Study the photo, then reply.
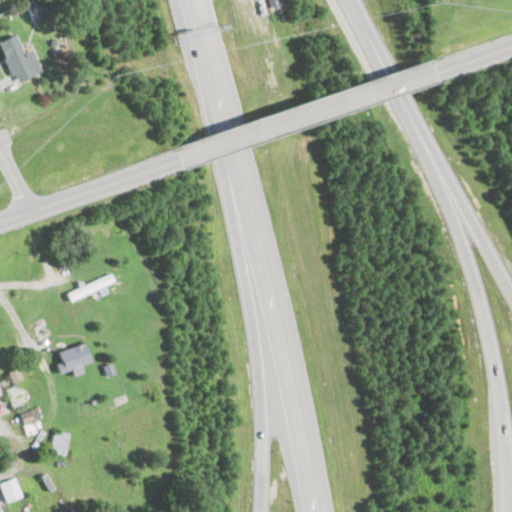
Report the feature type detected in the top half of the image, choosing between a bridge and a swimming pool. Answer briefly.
bridge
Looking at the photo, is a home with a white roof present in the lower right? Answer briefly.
No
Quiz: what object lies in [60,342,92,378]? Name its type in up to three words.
house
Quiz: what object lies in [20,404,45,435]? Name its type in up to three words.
house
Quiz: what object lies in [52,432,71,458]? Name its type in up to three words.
building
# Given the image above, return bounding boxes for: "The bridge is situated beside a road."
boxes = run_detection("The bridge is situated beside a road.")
[170,58,448,176]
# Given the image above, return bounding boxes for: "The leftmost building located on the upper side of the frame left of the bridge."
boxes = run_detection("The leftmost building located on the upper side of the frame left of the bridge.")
[0,36,46,84]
